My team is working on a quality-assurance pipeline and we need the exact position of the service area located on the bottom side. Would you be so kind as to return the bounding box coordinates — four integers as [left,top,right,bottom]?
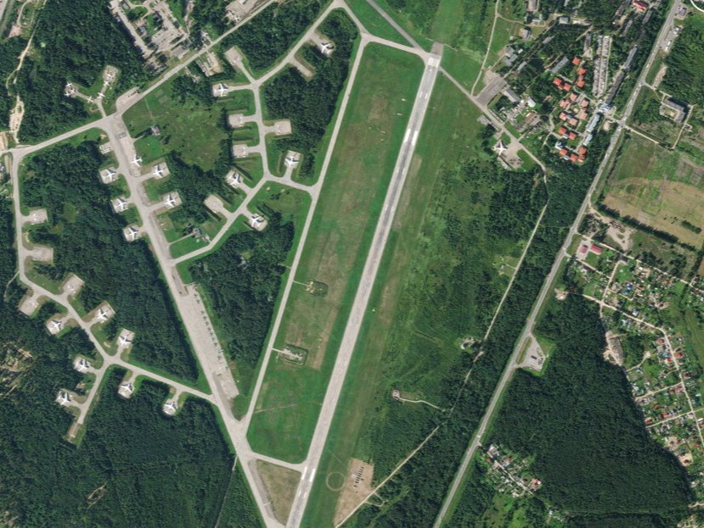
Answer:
[513,330,545,371]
